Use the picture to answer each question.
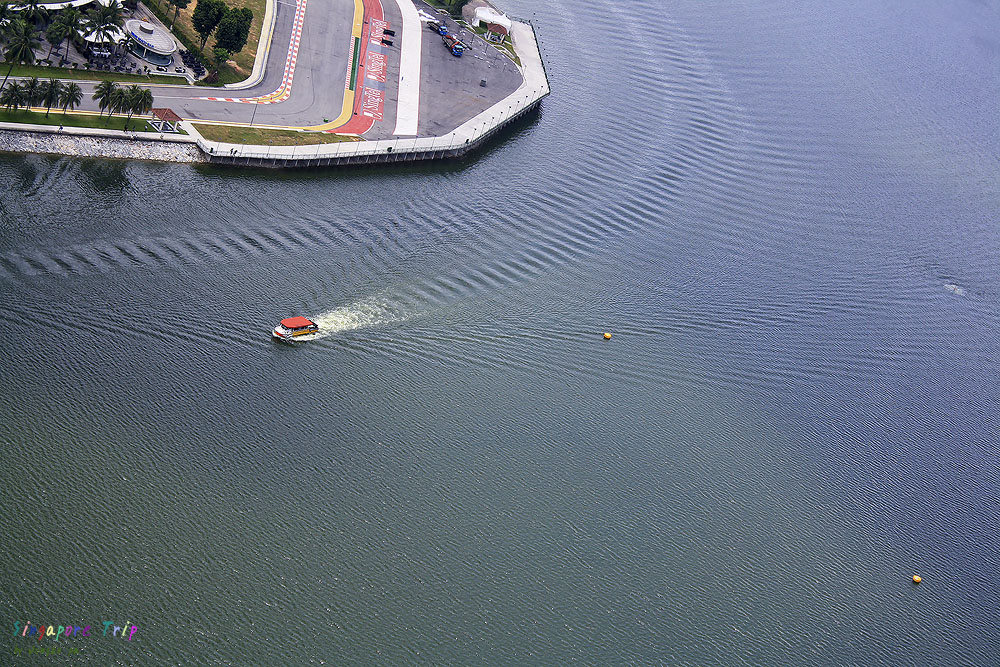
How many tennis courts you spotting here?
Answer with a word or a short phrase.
0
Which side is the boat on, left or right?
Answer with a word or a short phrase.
left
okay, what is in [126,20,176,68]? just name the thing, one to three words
building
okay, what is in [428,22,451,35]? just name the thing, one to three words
vehicle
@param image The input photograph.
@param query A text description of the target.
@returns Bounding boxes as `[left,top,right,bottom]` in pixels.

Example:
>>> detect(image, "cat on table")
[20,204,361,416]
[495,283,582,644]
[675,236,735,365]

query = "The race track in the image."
[0,0,524,142]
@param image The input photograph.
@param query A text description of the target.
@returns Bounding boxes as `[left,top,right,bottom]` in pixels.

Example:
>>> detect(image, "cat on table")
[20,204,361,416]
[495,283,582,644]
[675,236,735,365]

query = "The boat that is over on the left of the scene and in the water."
[274,313,322,336]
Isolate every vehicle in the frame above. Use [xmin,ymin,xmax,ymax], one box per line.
[428,22,451,35]
[443,35,470,57]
